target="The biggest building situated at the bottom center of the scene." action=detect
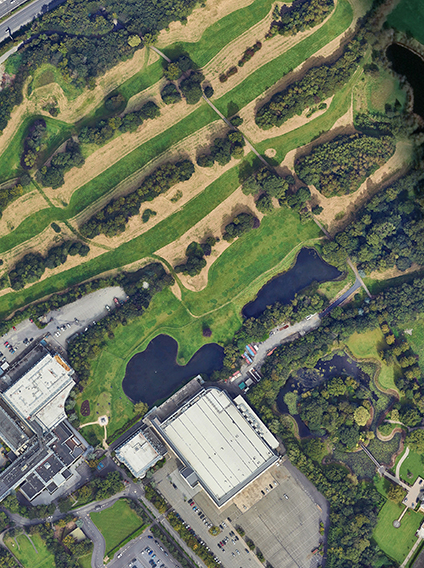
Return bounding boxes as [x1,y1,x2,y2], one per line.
[143,374,279,510]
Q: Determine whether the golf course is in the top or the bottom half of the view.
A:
top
